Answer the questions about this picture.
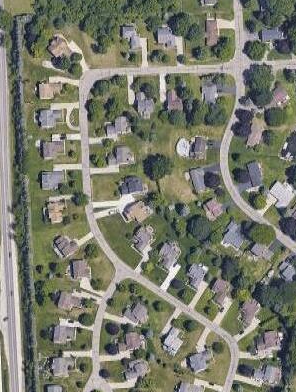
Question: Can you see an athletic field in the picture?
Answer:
No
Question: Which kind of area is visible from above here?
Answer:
residential area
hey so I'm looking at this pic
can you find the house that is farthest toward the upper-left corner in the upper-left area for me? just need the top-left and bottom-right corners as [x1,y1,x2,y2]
[47,35,71,57]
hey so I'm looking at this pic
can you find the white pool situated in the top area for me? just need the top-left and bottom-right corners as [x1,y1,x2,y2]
[177,137,190,156]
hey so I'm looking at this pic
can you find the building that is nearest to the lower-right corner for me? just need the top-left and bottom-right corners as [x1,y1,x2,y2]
[253,363,280,381]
